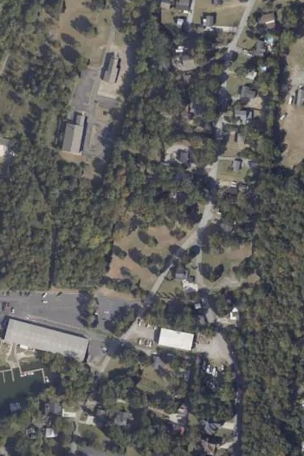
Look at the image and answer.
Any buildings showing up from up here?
Yes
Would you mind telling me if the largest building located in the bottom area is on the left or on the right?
left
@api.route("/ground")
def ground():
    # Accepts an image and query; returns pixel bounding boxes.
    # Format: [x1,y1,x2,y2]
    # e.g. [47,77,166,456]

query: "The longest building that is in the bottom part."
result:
[5,320,90,361]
